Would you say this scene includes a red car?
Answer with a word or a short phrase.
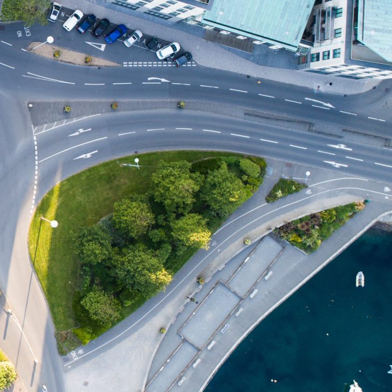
No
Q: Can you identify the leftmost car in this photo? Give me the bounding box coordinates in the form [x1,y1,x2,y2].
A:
[48,0,63,22]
